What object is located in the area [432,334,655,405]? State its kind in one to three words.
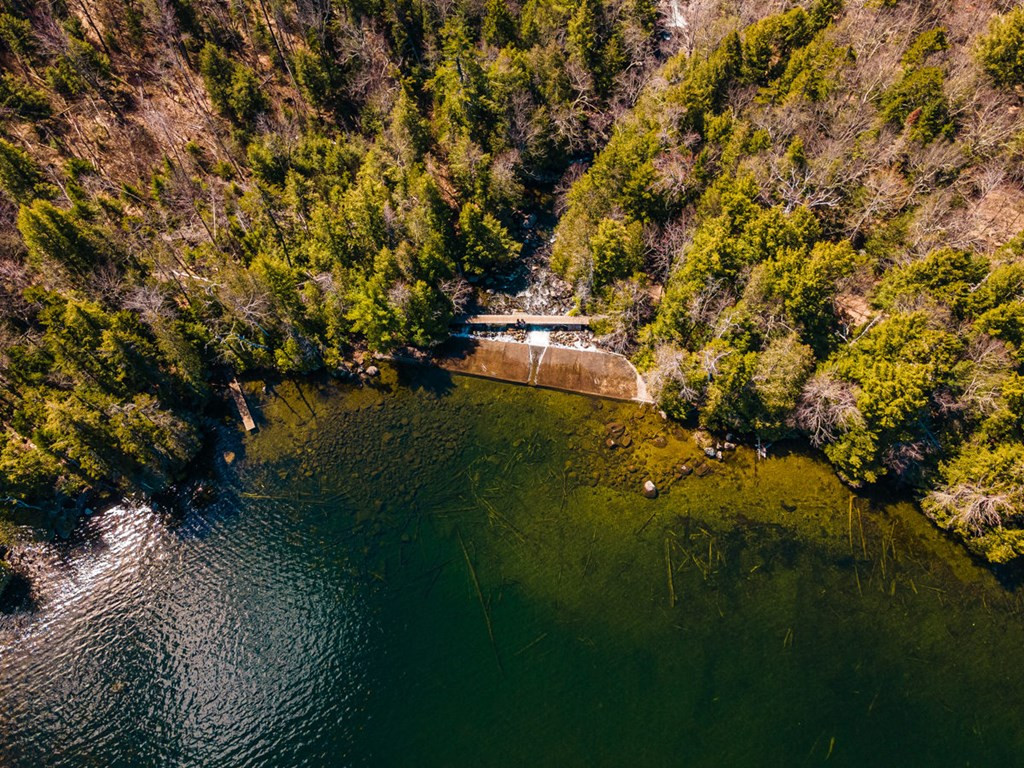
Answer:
dam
